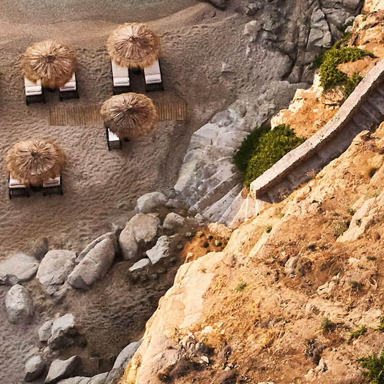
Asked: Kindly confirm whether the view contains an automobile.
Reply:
No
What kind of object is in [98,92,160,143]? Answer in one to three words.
umbrella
